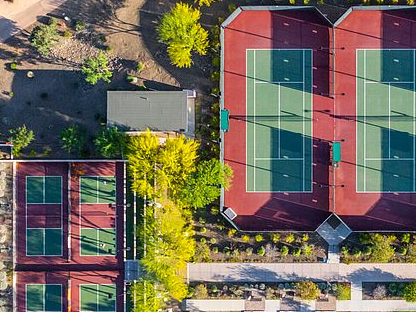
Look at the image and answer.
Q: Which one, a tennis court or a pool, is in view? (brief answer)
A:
tennis court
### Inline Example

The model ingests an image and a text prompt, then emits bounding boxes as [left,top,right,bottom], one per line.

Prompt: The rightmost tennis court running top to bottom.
[334,11,416,231]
